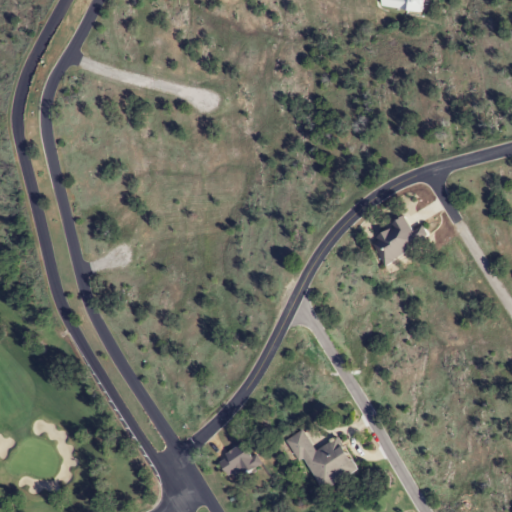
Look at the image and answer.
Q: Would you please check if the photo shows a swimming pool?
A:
No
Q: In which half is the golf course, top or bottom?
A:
bottom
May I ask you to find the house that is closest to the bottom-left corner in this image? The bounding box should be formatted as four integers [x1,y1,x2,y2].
[220,447,262,476]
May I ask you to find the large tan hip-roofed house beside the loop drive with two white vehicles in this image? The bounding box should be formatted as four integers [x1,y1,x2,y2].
[286,430,358,486]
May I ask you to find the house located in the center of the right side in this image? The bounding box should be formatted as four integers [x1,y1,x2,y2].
[377,215,430,265]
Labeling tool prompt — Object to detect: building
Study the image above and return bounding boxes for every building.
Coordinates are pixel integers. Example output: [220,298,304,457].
[377,215,430,265]
[220,447,262,476]
[380,0,424,12]
[286,430,358,486]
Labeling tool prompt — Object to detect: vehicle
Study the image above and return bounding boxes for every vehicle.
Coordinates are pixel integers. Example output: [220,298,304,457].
[210,442,218,452]
[354,445,364,456]
[350,438,356,447]
[372,432,380,442]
